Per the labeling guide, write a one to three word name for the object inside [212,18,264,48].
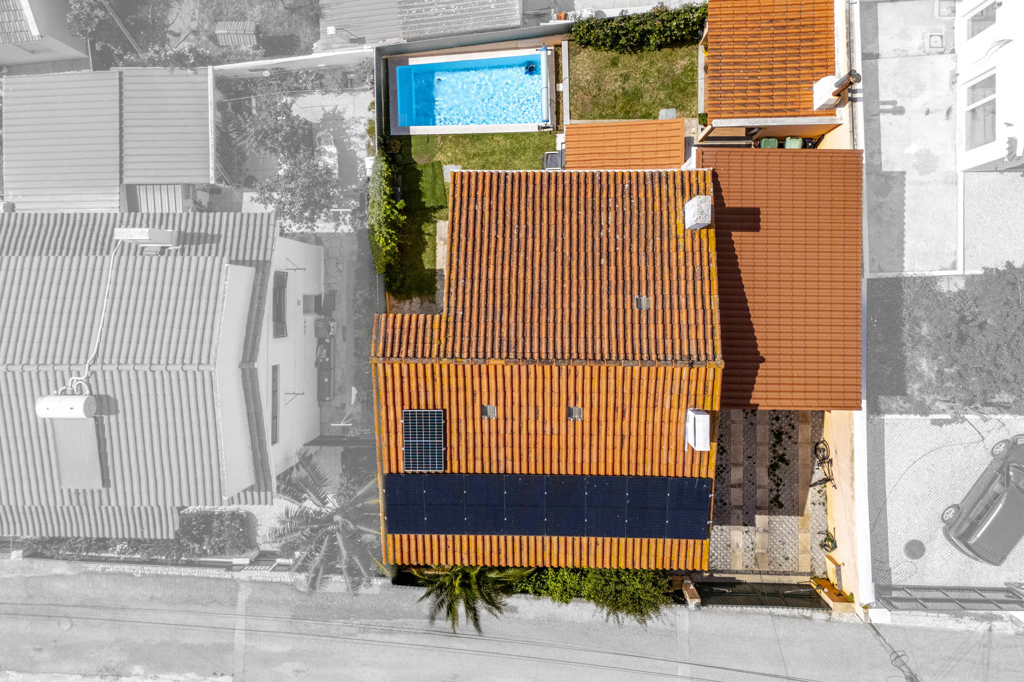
building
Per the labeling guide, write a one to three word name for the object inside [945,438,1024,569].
car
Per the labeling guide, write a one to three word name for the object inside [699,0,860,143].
shed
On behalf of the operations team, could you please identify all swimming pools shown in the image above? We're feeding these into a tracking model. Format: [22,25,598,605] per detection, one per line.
[389,44,556,135]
